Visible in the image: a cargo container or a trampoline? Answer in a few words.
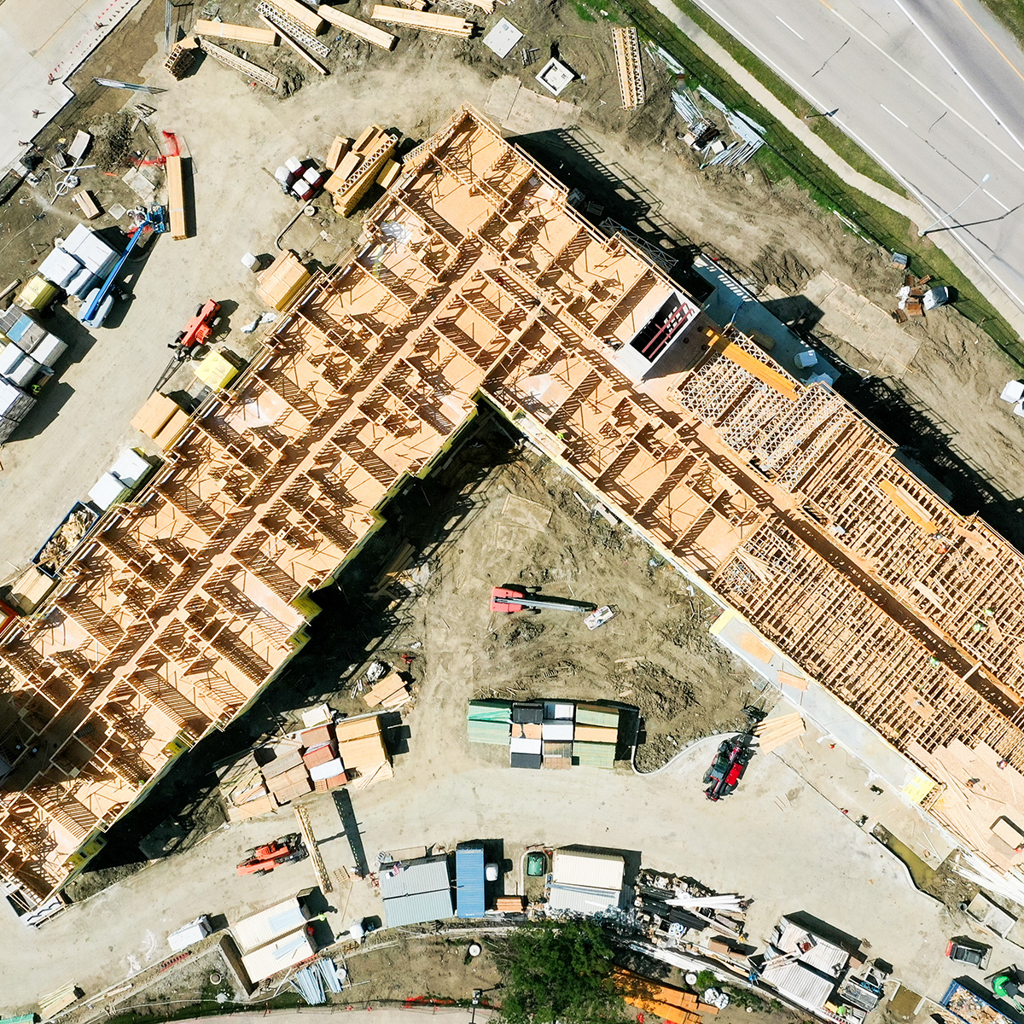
cargo container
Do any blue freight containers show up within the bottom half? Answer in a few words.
Yes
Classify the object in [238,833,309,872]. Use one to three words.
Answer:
work vehicle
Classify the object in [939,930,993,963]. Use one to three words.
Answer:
truck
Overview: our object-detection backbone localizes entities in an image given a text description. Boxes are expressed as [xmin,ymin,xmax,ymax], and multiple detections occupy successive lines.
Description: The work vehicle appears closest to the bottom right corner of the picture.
[972,967,1024,1013]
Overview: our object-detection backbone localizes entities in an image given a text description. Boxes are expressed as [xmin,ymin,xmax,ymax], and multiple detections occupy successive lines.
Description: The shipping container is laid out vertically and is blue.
[456,838,485,915]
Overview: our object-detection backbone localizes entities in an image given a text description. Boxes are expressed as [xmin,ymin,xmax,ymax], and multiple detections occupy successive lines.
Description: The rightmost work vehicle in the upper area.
[160,296,227,383]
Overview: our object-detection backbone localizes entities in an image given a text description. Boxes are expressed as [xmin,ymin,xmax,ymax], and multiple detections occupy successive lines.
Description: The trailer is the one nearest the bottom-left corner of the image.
[170,911,214,948]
